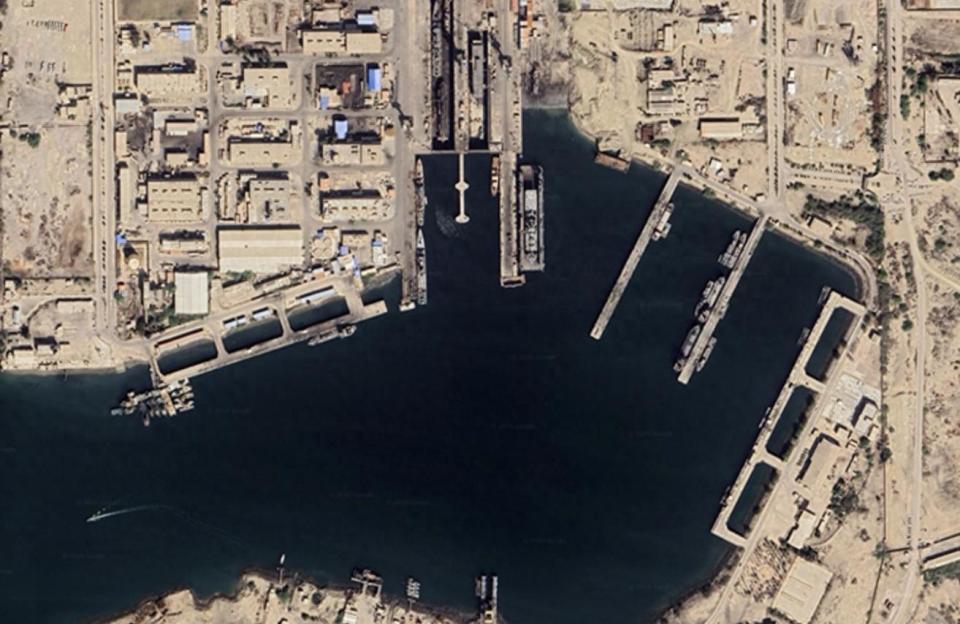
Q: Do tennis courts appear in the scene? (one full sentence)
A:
No, I can't see a single tennis court in this photo.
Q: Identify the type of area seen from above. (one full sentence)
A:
The area seen from above is a port.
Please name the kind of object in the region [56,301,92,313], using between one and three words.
building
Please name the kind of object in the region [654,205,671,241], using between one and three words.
ship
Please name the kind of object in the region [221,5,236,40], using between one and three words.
shed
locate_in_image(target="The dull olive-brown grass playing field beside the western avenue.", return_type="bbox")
[117,0,197,22]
